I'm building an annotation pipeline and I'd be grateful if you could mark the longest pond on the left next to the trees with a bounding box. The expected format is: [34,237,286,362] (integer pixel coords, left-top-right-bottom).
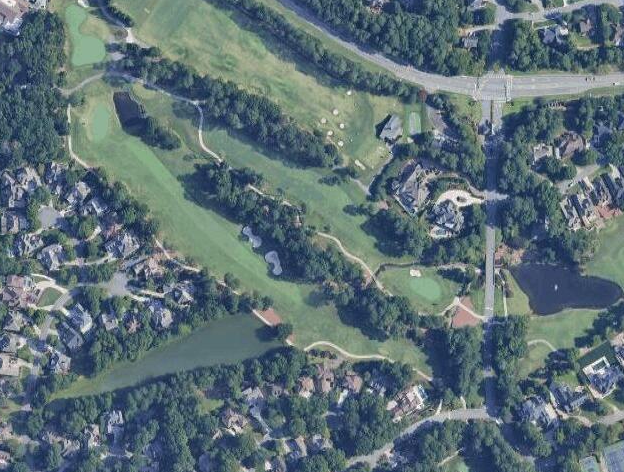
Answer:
[67,313,288,399]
